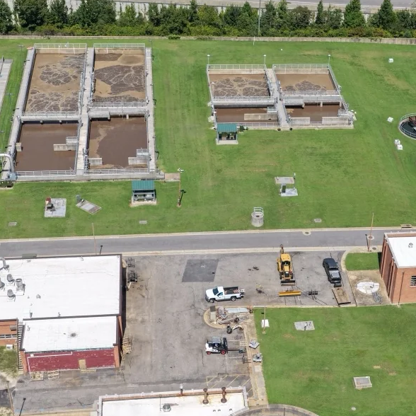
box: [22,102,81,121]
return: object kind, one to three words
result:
bridge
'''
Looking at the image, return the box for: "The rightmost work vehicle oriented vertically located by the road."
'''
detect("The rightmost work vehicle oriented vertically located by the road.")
[278,244,293,283]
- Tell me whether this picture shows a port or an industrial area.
industrial area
